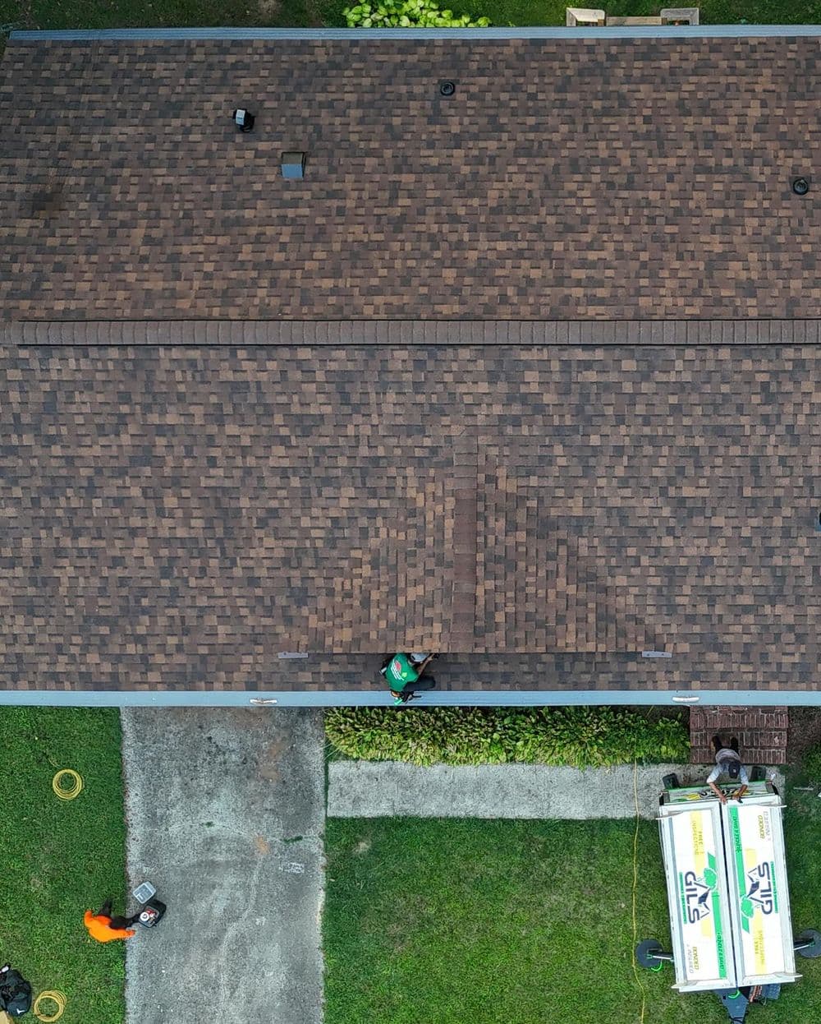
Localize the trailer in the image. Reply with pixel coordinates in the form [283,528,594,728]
[636,765,821,1024]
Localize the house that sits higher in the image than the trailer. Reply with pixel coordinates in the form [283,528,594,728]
[0,25,821,706]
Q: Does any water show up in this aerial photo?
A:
No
